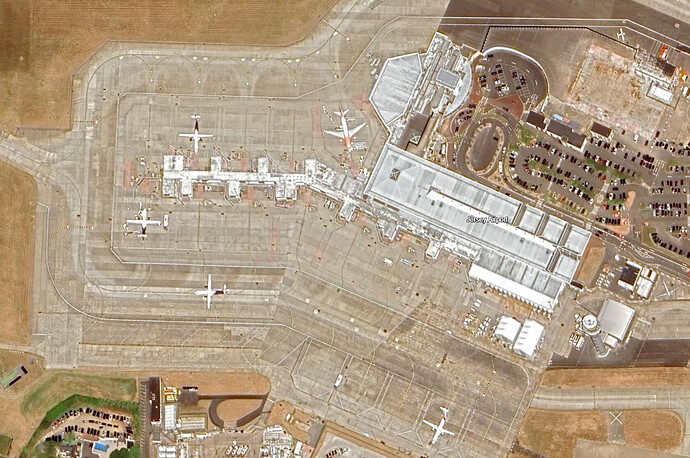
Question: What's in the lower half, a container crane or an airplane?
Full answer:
There is an airplane in the lower half.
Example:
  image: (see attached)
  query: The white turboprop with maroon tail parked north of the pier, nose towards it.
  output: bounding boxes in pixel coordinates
[179,114,214,153]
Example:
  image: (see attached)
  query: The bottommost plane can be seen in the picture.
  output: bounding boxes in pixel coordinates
[422,407,453,443]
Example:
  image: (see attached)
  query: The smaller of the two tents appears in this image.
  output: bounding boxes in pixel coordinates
[495,316,522,343]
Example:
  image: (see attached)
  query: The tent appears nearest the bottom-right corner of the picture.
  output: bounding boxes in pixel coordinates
[513,319,544,358]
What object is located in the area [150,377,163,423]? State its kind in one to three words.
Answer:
shed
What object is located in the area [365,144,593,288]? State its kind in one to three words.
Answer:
building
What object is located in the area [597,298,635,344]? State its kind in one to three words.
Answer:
hangar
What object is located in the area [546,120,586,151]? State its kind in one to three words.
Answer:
building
